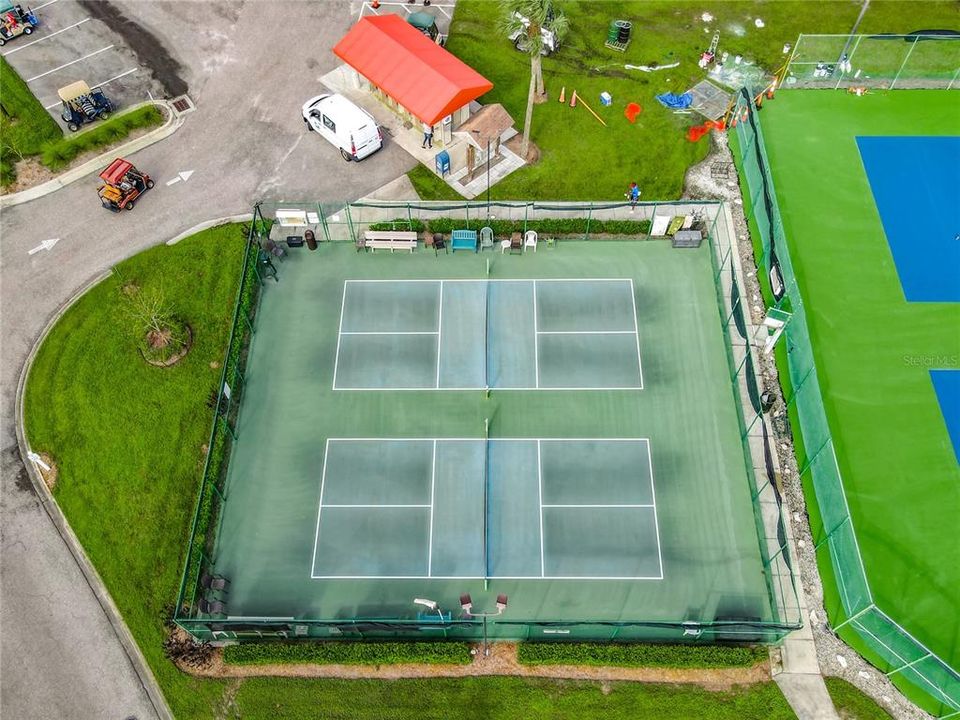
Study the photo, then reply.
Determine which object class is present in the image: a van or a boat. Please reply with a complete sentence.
I can see a van in this picture.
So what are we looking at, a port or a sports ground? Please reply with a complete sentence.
What you see here is a sports ground.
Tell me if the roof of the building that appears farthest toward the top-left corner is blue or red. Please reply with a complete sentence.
The color of the roof of the building that appears farthest toward the top-left corner is red.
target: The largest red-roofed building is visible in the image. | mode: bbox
[334,13,493,149]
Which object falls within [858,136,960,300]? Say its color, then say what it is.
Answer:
blue tennis court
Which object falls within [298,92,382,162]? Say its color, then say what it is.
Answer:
white van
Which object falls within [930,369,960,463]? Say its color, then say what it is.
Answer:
blue tennis court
